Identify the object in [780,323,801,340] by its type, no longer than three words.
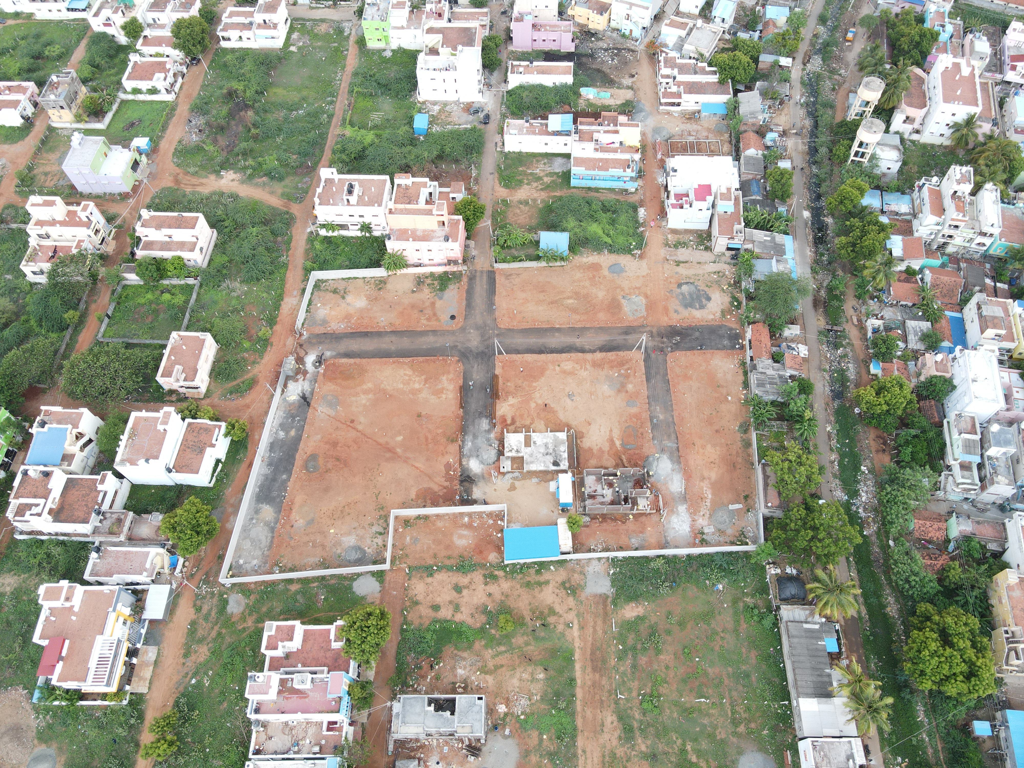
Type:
shed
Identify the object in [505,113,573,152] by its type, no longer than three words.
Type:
house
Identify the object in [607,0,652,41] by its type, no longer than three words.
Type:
house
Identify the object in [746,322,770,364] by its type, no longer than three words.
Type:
shed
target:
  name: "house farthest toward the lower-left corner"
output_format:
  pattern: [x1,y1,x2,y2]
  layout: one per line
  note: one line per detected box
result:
[34,585,147,696]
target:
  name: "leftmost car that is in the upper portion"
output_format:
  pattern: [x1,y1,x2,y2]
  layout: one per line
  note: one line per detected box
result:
[125,246,138,259]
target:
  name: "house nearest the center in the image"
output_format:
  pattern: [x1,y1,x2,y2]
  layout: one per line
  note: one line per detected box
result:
[501,427,576,480]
